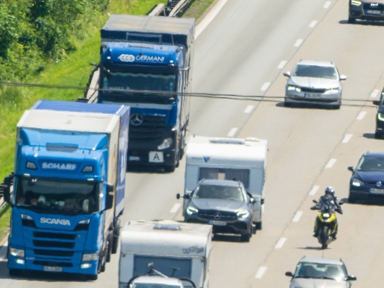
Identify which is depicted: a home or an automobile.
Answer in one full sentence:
Looking from above, you can make out an automobile.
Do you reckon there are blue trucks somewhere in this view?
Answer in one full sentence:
Yes, a blue truck is visible in the scene.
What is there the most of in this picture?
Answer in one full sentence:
The bulk of the photo consists of paved ground.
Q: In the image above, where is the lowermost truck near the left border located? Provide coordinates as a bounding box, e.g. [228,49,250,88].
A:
[6,104,133,274]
